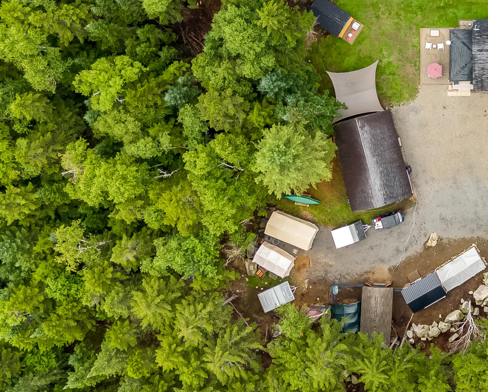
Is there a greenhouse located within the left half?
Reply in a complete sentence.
No, I can find no greenhouse within the left half.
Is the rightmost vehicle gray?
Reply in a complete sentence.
Yes, the rightmost vehicle is indeed gray.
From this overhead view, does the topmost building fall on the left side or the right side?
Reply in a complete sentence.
The topmost building is on the right side of the image.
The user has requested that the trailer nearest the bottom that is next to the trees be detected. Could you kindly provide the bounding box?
[259,280,299,312]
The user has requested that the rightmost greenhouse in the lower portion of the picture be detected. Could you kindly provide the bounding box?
[437,246,487,291]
